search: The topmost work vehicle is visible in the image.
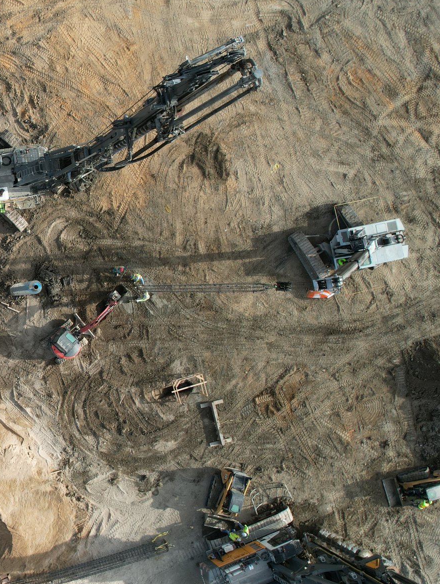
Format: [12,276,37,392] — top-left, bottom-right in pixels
[39,290,121,366]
